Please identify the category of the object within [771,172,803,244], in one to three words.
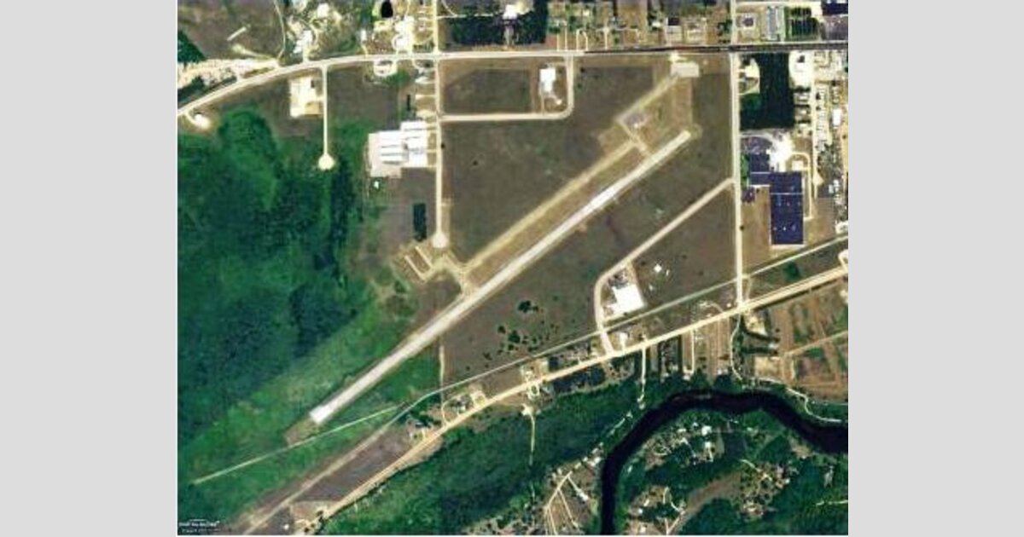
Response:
building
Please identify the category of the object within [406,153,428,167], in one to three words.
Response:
building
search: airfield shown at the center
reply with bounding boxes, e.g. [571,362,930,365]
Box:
[310,72,691,424]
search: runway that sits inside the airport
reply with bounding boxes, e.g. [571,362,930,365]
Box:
[310,131,691,424]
